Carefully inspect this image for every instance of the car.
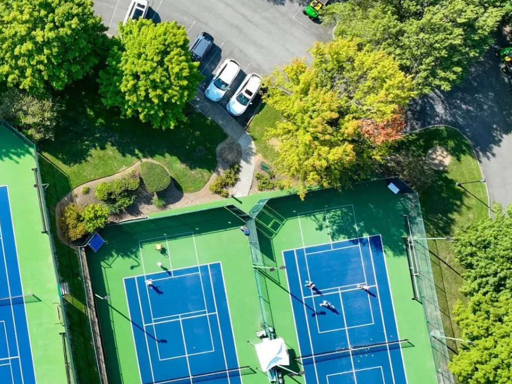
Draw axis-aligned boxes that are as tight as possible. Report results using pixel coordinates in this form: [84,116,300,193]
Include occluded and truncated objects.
[189,28,220,74]
[204,59,241,102]
[115,0,148,39]
[227,73,263,116]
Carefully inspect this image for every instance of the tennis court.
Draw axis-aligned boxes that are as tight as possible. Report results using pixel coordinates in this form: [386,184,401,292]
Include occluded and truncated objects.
[249,177,439,384]
[0,127,75,384]
[88,194,276,384]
